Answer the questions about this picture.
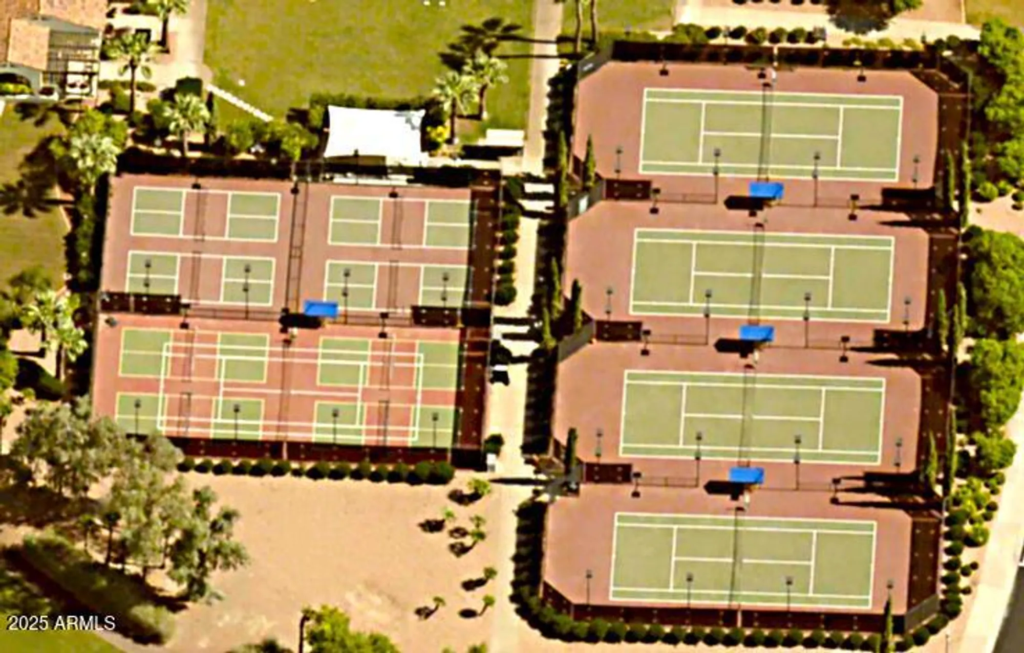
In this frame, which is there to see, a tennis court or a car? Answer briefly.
tennis court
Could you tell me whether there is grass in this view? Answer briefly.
Yes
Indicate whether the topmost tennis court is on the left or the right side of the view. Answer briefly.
right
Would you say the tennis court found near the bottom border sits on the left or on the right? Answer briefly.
right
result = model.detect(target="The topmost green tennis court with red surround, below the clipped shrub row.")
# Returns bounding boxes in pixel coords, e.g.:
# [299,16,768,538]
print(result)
[572,59,969,210]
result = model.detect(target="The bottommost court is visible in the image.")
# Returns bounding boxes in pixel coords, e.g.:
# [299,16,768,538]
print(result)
[541,483,944,638]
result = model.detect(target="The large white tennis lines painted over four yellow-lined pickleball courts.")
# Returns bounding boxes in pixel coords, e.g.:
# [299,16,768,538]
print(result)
[89,313,490,470]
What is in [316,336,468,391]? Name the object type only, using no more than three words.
sports court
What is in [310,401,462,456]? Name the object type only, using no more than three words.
sports court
